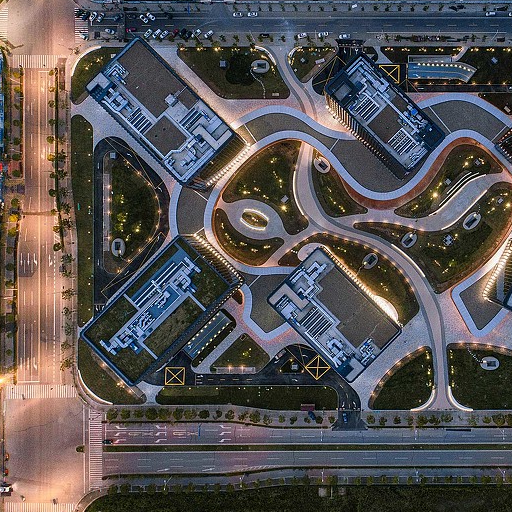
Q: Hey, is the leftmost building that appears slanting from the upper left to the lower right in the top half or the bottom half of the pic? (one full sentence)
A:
The leftmost building that appears slanting from the upper left to the lower right is in the top half of the image.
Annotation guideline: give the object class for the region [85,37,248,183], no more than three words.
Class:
building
